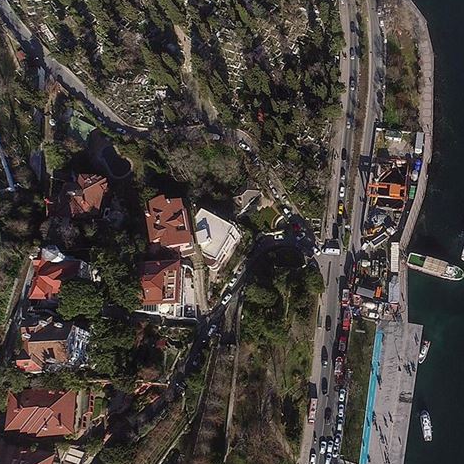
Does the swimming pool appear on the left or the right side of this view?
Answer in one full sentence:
The swimming pool is on the left side of the image.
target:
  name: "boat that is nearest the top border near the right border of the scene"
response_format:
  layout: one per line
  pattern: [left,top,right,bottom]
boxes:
[408,252,464,279]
